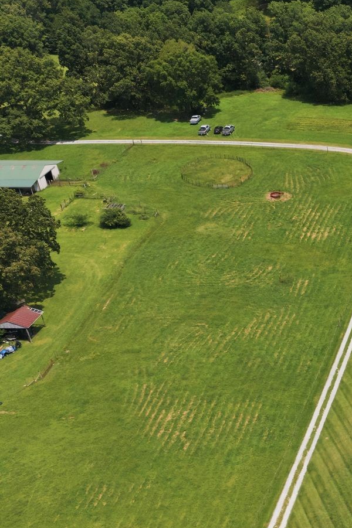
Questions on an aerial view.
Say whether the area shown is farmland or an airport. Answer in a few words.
farmland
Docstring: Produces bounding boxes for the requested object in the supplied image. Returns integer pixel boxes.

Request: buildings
[0,307,47,343]
[0,160,65,195]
